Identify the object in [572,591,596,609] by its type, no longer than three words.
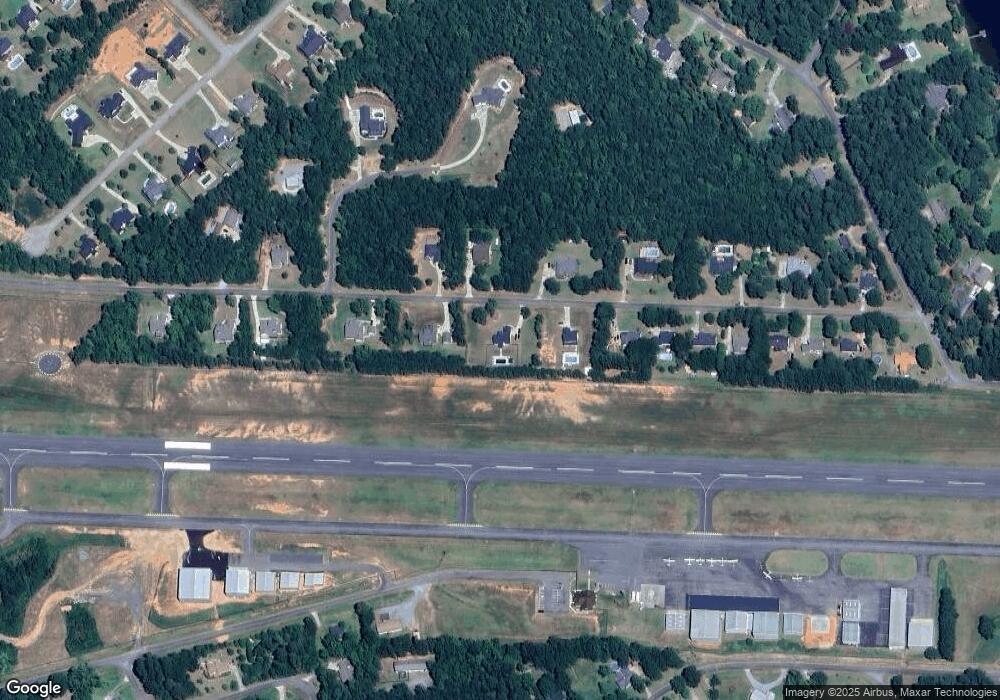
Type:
building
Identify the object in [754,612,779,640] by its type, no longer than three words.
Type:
hangar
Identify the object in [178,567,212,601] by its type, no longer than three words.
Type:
hangar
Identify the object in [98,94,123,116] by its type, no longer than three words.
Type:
house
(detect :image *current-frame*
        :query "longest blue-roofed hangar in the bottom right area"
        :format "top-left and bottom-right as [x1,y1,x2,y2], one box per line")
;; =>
[689,594,779,613]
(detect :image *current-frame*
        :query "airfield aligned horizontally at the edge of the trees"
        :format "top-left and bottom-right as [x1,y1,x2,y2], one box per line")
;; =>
[0,433,1000,646]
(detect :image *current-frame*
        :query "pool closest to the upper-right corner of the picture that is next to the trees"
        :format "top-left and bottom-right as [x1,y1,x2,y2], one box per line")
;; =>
[903,43,921,61]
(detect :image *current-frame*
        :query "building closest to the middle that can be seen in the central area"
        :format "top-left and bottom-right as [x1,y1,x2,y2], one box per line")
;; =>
[492,326,514,347]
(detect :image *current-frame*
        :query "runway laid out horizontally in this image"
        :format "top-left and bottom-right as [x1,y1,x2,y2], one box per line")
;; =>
[0,433,1000,500]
